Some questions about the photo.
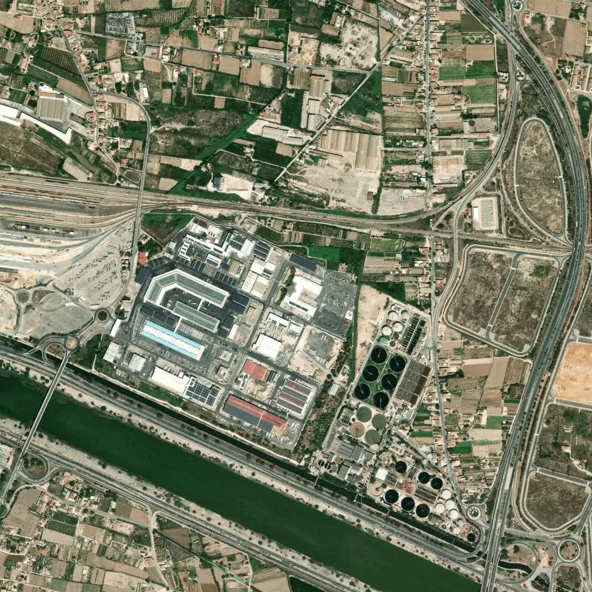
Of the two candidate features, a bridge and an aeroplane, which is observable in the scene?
bridge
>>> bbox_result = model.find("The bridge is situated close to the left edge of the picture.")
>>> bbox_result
[11,337,74,484]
